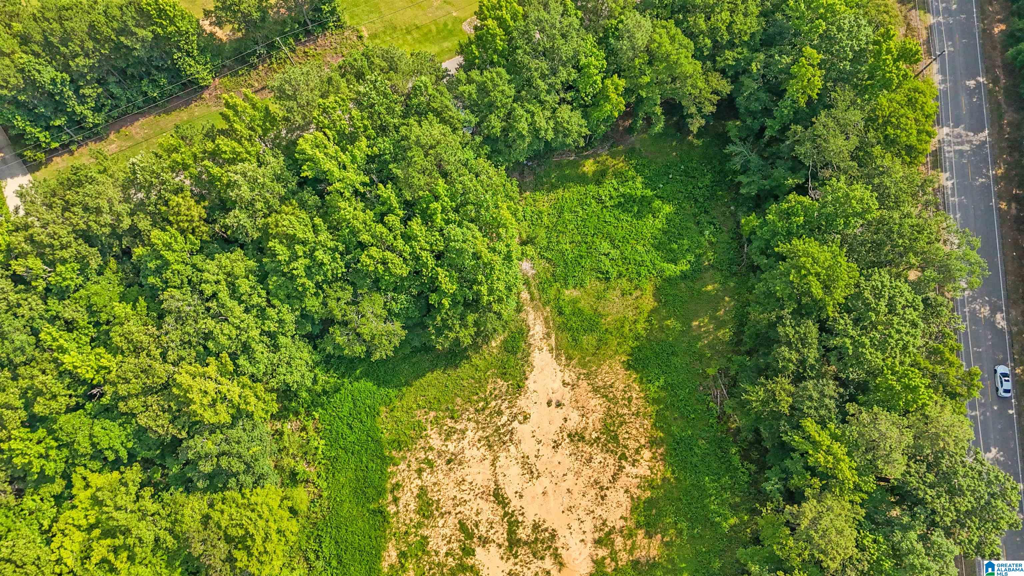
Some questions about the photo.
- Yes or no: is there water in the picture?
No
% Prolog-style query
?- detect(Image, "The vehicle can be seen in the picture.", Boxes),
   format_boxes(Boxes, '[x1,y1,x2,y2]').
[992,365,1010,398]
